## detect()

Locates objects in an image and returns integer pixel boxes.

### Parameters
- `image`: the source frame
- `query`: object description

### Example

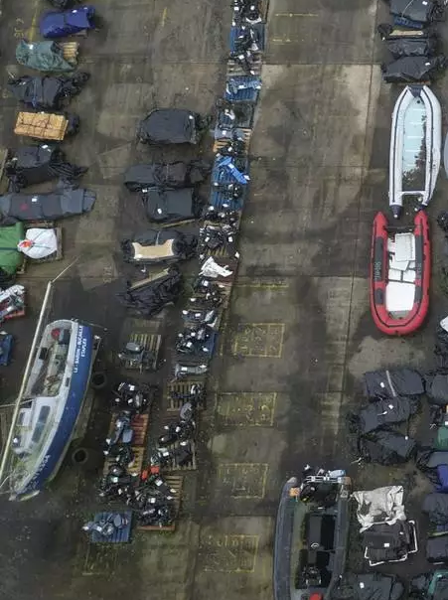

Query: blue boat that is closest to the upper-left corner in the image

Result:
[37,2,101,42]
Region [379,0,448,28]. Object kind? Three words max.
boat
